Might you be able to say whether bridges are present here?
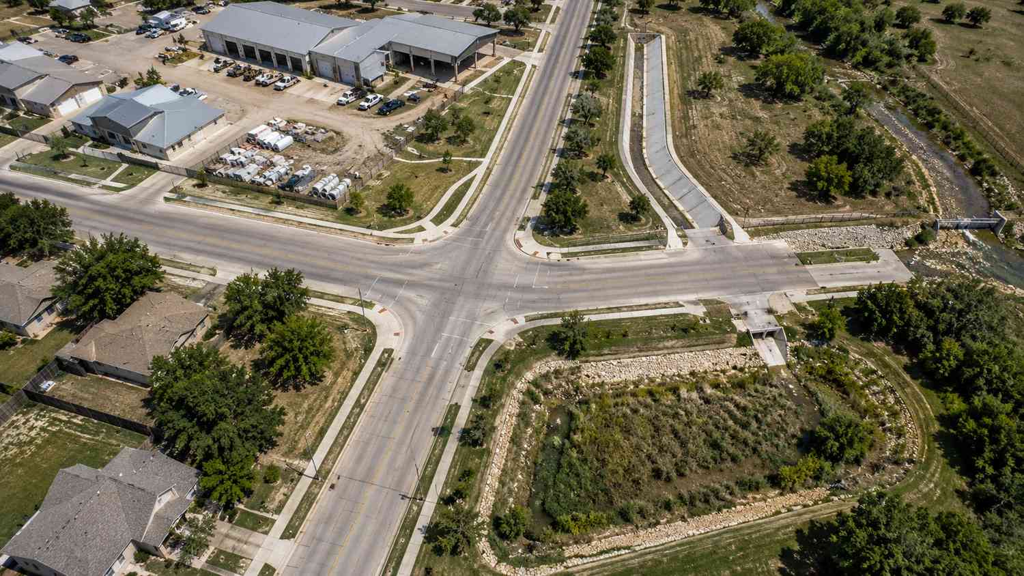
Yes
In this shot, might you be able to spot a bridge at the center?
No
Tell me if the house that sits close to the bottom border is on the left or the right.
left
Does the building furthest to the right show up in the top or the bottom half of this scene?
top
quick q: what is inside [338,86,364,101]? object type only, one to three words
vehicle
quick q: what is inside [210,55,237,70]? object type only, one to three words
vehicle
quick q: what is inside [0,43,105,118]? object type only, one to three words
building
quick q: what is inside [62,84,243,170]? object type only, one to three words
building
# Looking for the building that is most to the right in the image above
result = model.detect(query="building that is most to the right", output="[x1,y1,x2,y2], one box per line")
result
[199,4,506,89]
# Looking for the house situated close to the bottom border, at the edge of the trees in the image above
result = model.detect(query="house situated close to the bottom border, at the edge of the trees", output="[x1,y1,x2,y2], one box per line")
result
[0,446,205,576]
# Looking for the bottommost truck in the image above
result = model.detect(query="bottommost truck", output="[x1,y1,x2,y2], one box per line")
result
[282,164,315,186]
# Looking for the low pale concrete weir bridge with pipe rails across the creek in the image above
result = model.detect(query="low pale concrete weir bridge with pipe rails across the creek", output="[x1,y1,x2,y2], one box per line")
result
[932,206,1008,240]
